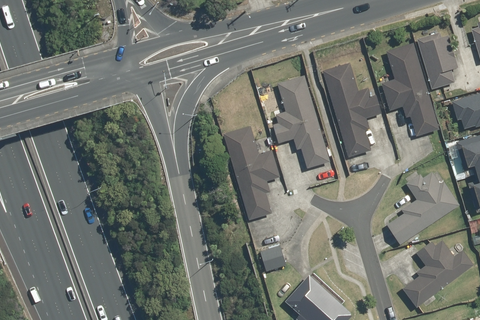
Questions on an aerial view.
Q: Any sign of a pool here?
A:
Yes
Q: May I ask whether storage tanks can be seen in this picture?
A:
No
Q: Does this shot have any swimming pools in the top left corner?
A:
No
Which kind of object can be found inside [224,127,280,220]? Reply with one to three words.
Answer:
house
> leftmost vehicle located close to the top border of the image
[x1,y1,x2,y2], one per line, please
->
[0,4,14,28]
